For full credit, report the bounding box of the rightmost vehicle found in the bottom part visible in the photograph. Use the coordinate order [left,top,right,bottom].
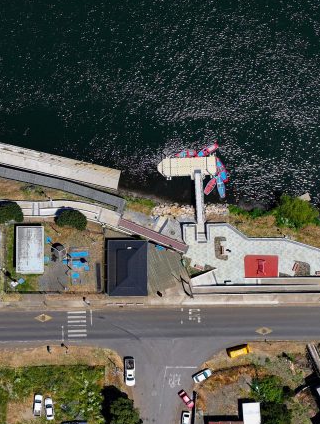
[227,345,252,360]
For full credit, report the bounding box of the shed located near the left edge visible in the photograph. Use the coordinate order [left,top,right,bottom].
[16,226,44,273]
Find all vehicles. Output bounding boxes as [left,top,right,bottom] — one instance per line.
[125,358,136,387]
[32,395,42,417]
[192,369,214,384]
[227,345,252,360]
[178,389,195,410]
[182,412,191,424]
[44,398,54,421]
